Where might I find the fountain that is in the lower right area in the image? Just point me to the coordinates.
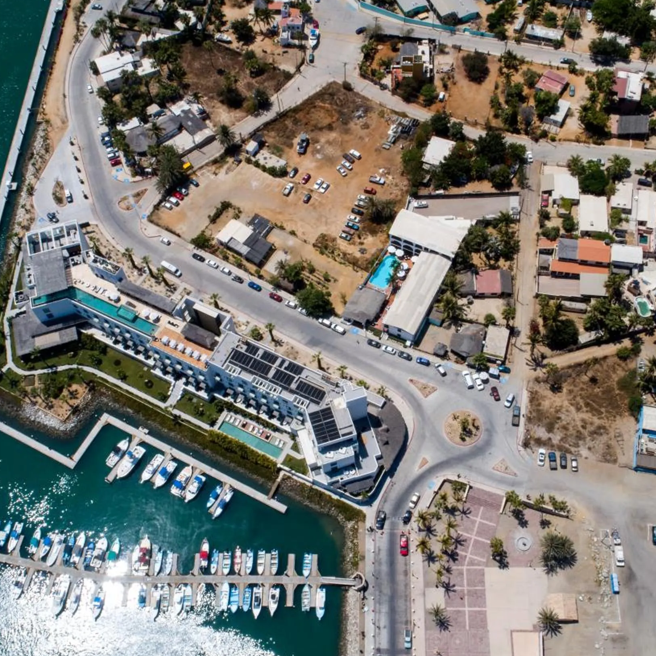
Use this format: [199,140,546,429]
[514,534,533,553]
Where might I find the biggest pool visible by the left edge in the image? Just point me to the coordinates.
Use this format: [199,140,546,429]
[32,288,160,336]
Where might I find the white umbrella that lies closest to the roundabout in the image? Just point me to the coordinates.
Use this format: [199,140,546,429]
[477,370,491,383]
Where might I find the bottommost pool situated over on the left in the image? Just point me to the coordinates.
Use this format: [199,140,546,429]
[217,419,284,460]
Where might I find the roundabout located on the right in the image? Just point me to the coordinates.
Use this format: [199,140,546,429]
[444,409,483,446]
